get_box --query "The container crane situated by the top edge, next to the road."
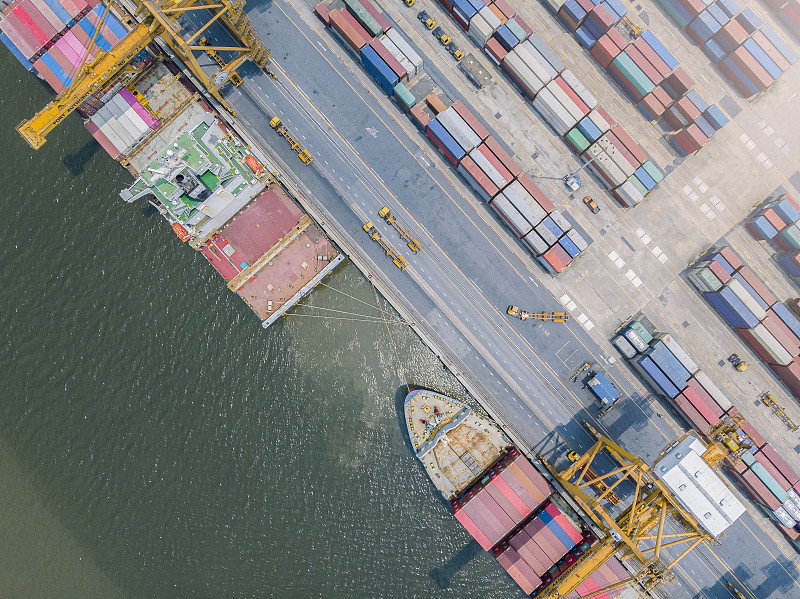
[12,0,288,151]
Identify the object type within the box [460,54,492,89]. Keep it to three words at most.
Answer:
shed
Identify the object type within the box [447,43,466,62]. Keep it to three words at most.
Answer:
vehicle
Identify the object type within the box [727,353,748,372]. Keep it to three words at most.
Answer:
vehicle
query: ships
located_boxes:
[403,387,589,552]
[43,0,342,327]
